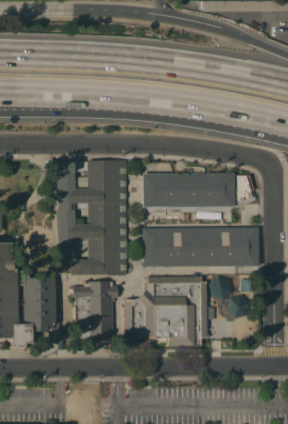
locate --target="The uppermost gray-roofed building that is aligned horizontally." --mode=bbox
[144,173,238,211]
